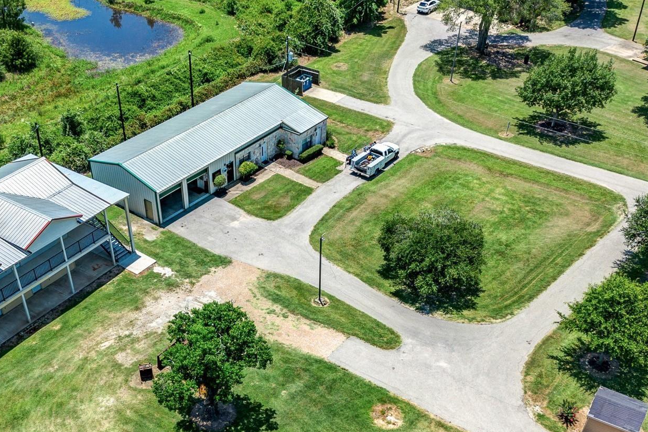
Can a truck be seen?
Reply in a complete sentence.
Yes, I can see a truck in this picture.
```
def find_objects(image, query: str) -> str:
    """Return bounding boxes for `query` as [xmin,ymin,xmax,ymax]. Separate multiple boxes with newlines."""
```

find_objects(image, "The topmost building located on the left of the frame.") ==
[87,81,330,228]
